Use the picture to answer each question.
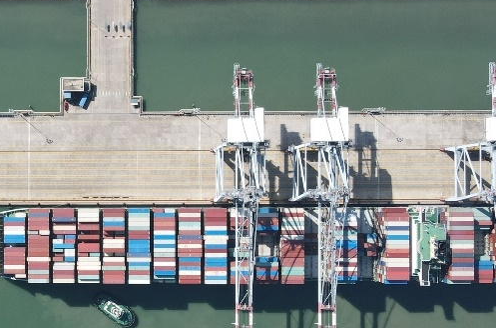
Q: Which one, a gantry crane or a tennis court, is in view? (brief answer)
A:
gantry crane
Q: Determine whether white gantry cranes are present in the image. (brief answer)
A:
Yes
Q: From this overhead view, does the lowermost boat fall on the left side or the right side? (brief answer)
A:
left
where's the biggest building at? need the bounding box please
[61,78,83,92]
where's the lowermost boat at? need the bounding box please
[92,291,136,328]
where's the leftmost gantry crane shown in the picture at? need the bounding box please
[210,64,268,328]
